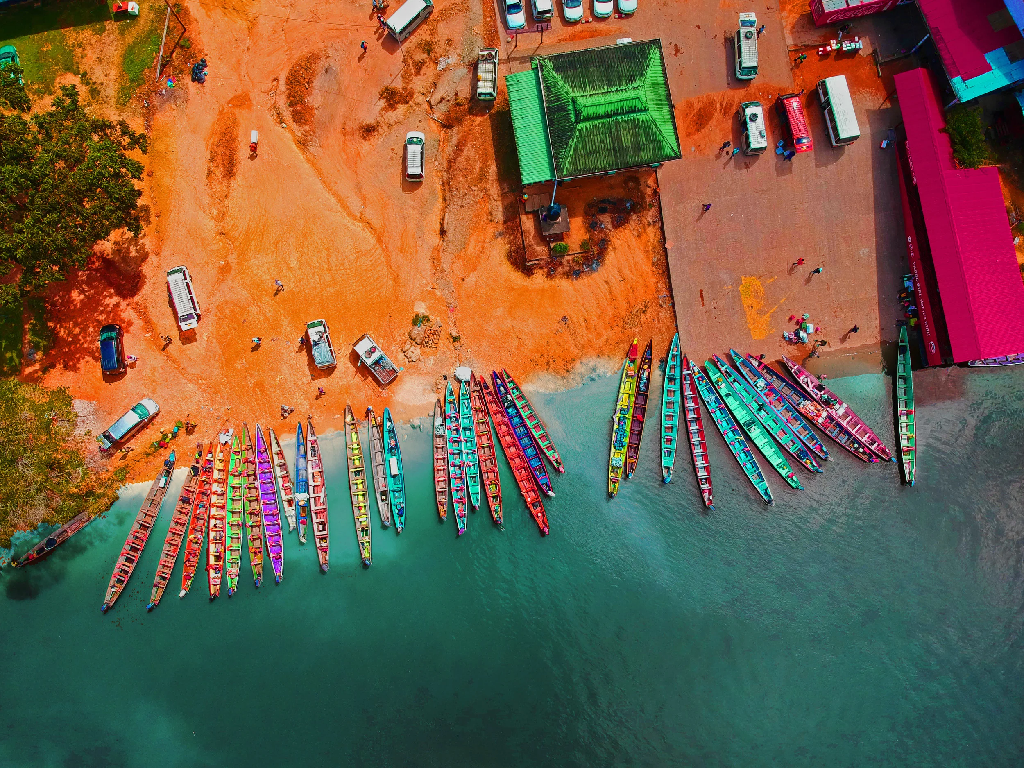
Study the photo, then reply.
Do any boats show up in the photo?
Yes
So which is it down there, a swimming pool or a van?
van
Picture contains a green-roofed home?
Yes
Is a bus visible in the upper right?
Yes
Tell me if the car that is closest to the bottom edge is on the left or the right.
left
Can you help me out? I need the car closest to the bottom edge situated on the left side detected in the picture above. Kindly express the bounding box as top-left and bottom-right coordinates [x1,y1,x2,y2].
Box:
[101,385,172,438]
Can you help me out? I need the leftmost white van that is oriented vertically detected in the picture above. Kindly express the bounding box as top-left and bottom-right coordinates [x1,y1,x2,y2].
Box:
[167,261,204,327]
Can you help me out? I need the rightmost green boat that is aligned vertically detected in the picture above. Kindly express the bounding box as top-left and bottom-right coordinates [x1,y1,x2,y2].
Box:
[896,327,916,488]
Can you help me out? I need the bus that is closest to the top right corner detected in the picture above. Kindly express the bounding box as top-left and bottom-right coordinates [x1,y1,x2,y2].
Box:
[813,76,860,152]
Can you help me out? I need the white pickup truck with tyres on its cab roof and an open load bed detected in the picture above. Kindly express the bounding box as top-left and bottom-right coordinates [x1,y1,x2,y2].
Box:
[352,335,402,388]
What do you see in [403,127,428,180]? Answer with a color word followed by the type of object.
white car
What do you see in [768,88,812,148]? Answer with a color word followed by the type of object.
red van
